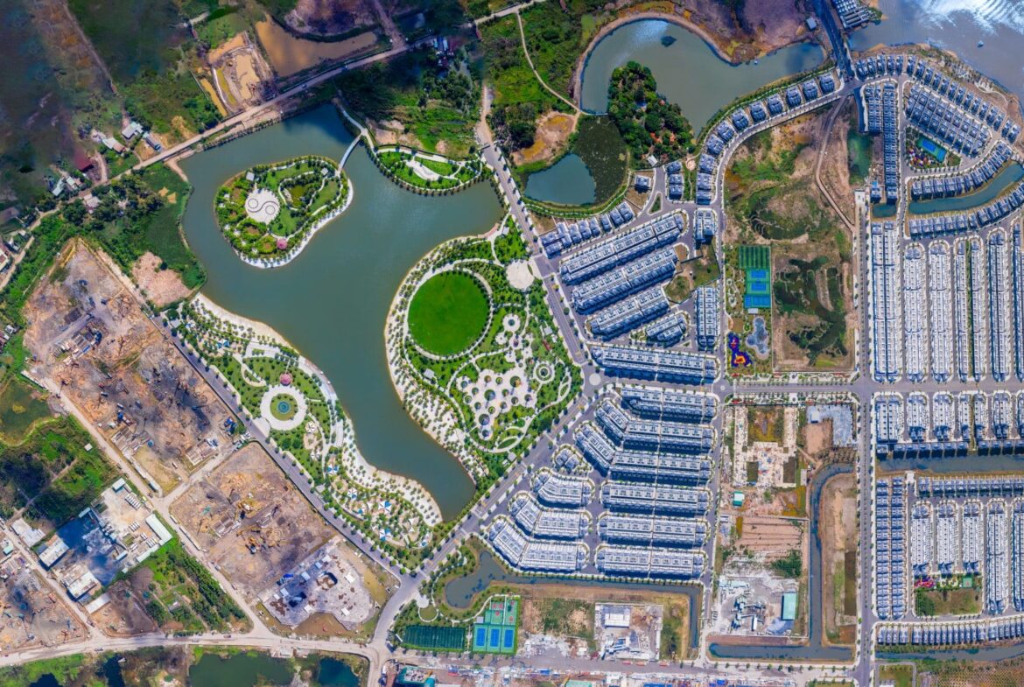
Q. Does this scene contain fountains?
Yes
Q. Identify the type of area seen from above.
residential area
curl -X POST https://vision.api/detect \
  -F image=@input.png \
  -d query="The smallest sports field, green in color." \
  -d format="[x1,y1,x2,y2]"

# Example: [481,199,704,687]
[740,247,771,268]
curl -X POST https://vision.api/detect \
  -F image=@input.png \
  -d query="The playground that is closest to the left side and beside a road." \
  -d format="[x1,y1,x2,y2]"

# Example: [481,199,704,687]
[728,332,751,367]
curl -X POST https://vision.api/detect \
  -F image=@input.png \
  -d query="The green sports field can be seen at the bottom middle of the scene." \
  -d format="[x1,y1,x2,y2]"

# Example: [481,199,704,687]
[402,625,465,649]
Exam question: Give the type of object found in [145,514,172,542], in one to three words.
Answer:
building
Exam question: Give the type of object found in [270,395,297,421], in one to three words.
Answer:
fountain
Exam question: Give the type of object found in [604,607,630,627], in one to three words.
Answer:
building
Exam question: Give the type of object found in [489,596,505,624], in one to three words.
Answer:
basketball court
